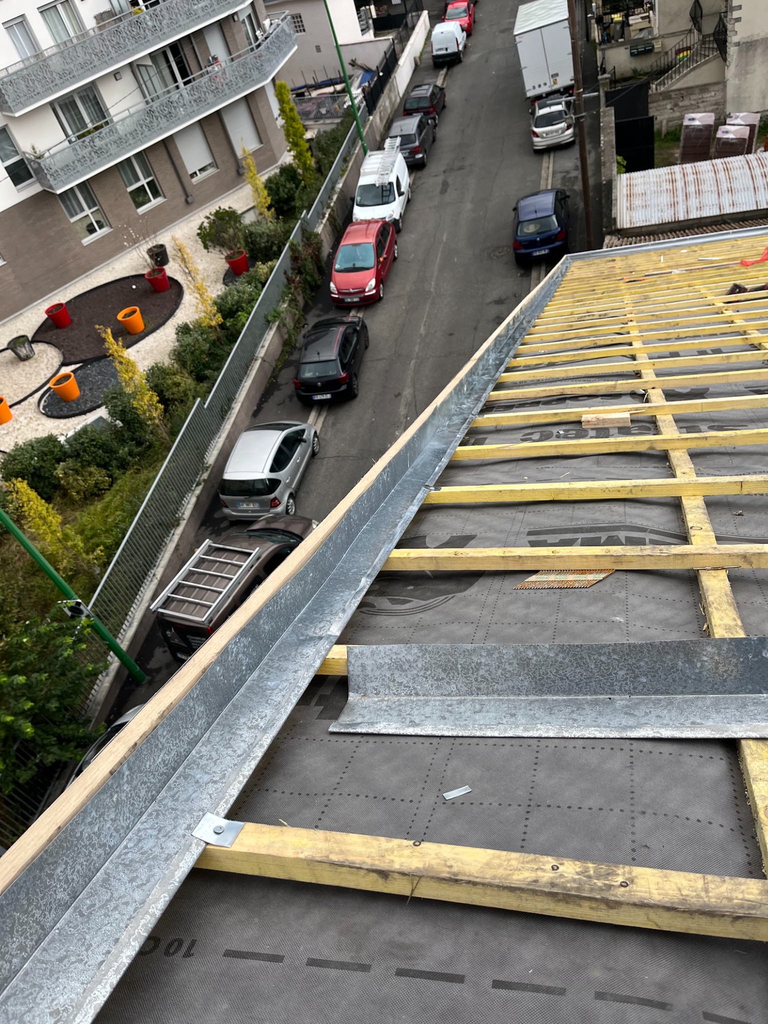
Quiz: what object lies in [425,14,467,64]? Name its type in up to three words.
van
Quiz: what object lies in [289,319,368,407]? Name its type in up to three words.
car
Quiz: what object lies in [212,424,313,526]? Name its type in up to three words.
car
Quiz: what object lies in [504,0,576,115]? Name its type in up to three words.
truck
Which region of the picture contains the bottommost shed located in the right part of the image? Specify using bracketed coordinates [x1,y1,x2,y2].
[618,152,768,236]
